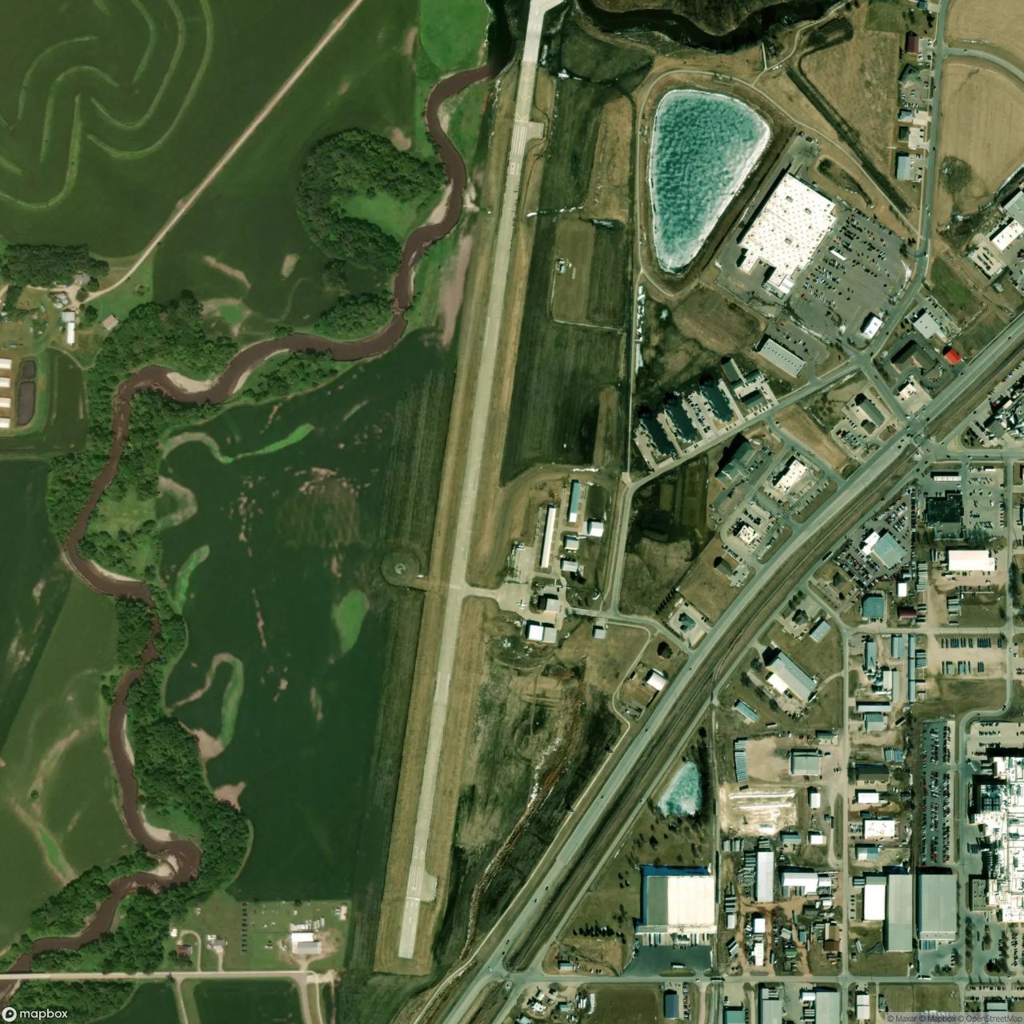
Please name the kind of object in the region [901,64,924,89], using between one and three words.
house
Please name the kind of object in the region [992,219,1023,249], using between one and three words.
building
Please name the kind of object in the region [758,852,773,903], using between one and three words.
building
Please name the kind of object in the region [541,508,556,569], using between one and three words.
hangar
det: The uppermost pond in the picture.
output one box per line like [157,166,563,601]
[649,89,770,273]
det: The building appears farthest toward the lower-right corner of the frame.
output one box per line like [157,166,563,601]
[986,1002,1008,1021]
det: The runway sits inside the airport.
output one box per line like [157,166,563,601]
[399,0,546,959]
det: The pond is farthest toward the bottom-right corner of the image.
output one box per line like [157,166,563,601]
[657,760,702,816]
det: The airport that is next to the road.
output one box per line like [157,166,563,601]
[399,0,606,959]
